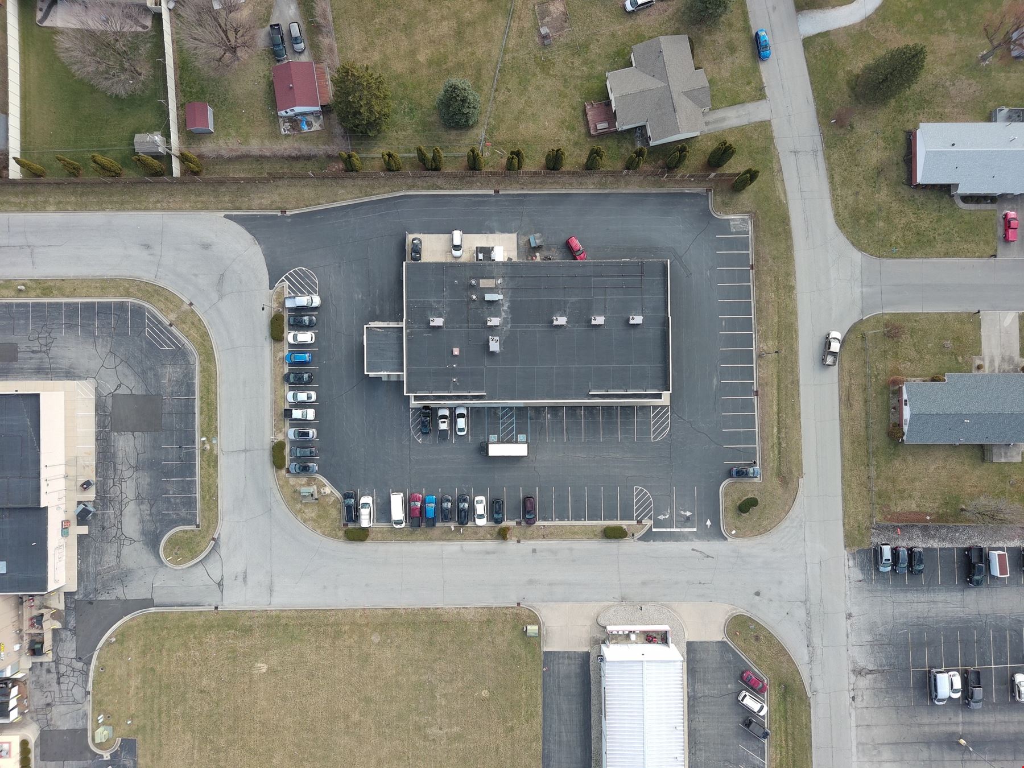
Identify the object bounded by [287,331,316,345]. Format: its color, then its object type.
white car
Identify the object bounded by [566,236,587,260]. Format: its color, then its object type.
red car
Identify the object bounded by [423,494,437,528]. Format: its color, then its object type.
blue vehicle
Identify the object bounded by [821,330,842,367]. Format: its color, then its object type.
white truck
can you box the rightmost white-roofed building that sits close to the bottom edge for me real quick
[601,646,685,768]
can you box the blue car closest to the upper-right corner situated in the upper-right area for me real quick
[754,28,772,61]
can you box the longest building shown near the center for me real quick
[404,260,672,406]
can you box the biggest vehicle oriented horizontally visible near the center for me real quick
[478,443,527,460]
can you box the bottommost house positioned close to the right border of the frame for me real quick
[897,373,1024,444]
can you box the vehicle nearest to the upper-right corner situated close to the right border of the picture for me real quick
[1001,210,1020,244]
